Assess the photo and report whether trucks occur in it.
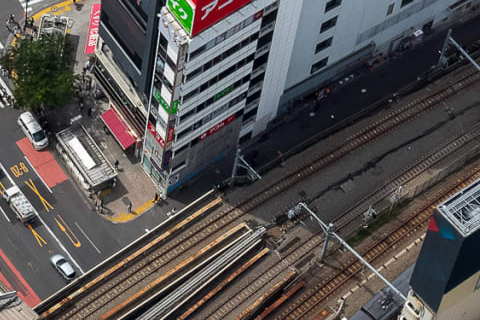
Yes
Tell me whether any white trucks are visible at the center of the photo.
No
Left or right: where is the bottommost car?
left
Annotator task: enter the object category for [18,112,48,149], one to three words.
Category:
van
